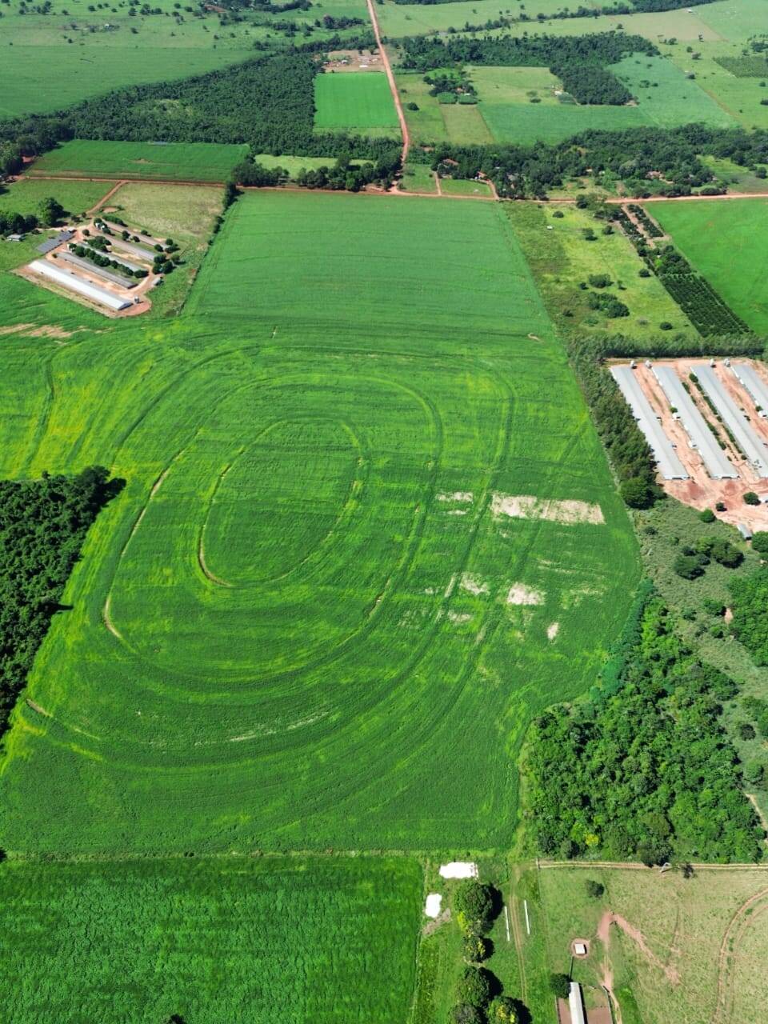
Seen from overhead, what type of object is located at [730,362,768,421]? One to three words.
shed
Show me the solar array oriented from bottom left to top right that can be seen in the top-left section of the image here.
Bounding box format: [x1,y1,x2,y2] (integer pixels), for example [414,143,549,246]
[36,232,73,252]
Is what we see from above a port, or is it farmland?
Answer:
farmland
